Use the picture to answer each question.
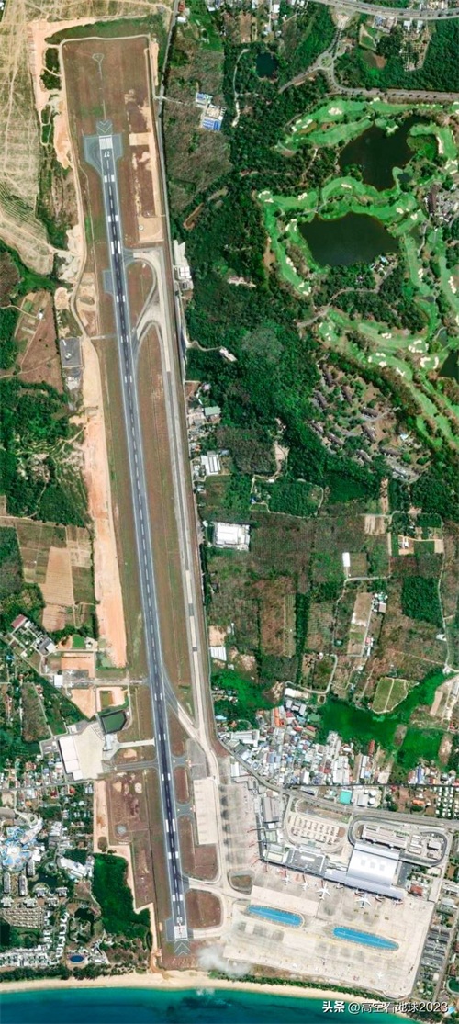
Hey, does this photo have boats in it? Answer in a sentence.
No, I can't see a single boat in this photo.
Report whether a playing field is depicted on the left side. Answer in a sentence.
No, on the left side there is no playing field.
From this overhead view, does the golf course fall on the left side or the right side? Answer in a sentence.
It is on the right.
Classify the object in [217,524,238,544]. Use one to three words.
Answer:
building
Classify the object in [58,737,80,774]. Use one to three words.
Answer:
hangar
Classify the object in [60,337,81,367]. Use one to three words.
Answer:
helipad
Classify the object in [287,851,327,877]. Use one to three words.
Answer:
building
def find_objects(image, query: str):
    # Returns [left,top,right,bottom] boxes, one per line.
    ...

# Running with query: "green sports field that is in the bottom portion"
[372,677,417,713]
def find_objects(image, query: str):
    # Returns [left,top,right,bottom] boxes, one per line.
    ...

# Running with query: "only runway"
[99,123,189,952]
